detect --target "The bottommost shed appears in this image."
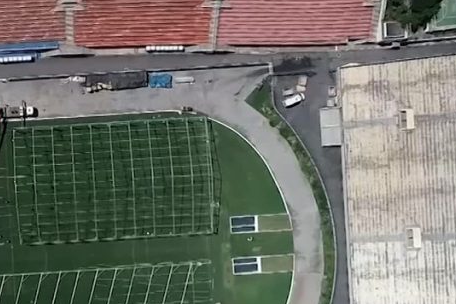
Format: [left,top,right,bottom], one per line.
[316,107,342,146]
